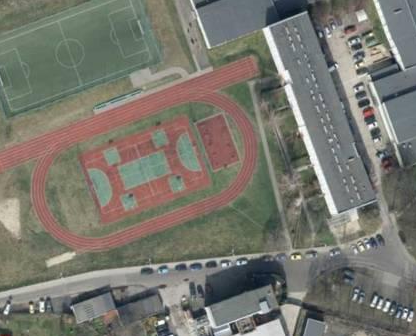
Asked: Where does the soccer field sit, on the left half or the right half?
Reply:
left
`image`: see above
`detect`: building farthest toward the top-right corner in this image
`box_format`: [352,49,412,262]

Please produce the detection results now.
[367,0,416,72]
